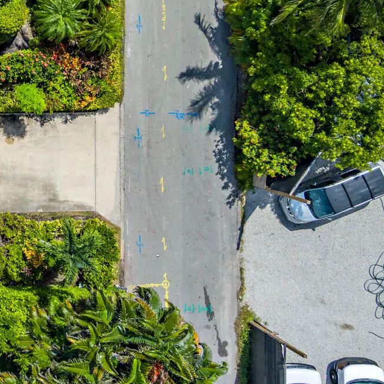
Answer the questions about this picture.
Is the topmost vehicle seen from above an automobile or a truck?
automobile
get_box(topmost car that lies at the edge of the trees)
[275,171,382,231]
